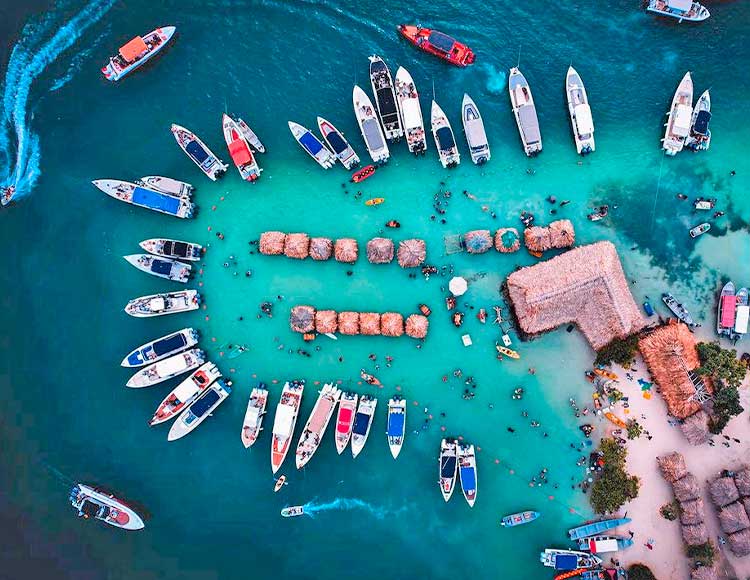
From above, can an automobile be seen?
No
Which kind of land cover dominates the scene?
water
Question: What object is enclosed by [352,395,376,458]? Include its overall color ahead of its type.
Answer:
white boat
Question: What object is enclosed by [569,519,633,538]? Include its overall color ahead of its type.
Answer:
blue boat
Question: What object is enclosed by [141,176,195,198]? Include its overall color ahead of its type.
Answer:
white boat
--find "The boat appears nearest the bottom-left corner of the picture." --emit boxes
[74,488,146,527]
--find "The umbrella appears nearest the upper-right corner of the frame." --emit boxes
[449,277,467,295]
